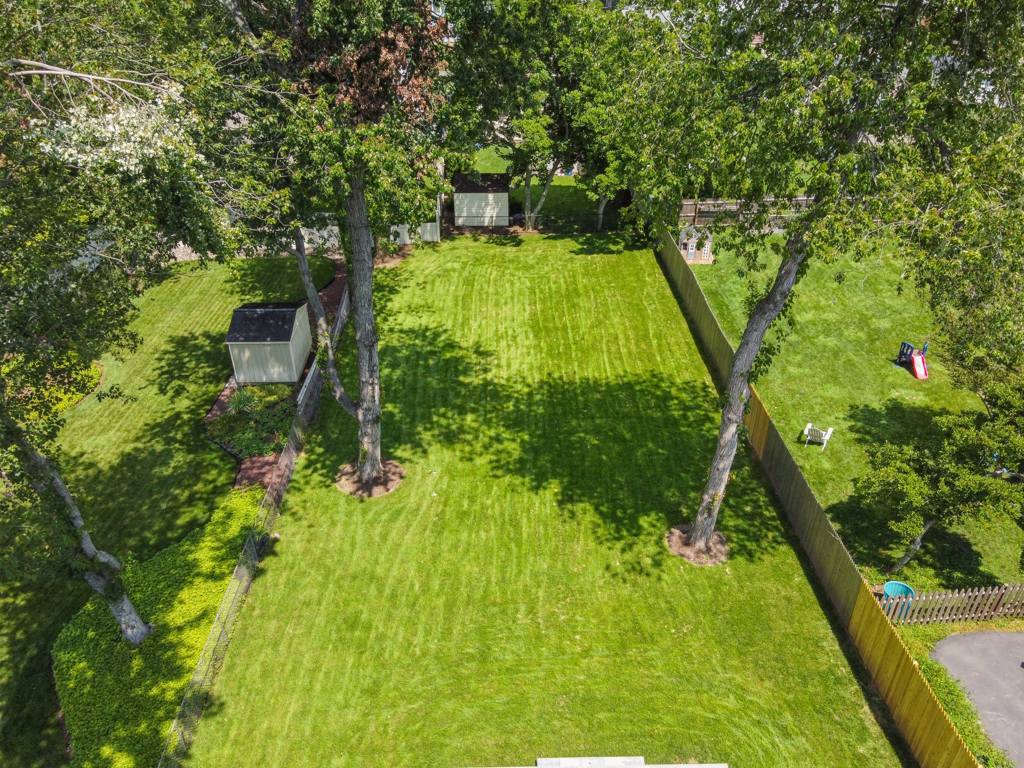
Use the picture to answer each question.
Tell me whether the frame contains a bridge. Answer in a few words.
No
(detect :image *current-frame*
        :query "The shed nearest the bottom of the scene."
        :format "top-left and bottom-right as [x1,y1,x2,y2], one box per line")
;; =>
[226,301,316,381]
